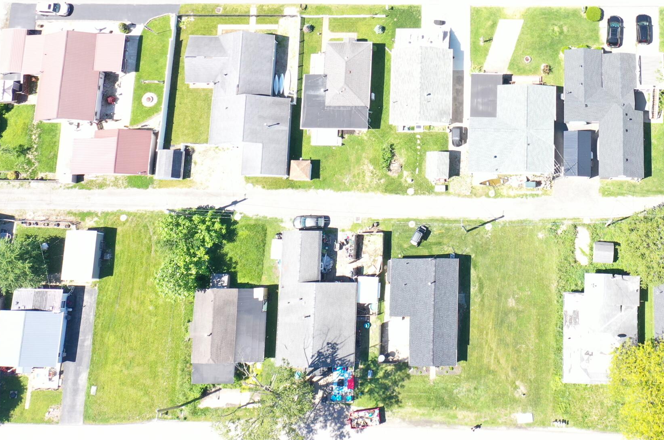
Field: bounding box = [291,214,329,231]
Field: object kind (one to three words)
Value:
car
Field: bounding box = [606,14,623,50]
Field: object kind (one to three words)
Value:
car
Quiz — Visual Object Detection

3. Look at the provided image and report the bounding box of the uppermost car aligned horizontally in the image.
[33,0,71,17]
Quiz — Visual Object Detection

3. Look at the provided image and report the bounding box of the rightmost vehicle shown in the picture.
[635,12,652,47]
